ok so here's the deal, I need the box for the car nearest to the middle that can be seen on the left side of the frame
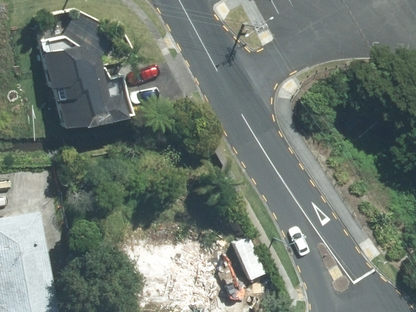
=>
[130,86,160,104]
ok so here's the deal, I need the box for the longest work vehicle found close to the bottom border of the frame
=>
[218,252,246,306]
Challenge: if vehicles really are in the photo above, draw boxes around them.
[130,86,160,104]
[0,196,8,208]
[126,64,160,84]
[218,252,246,306]
[285,225,311,256]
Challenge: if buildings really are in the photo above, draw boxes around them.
[230,235,266,280]
[0,210,58,312]
[37,18,134,128]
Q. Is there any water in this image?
No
